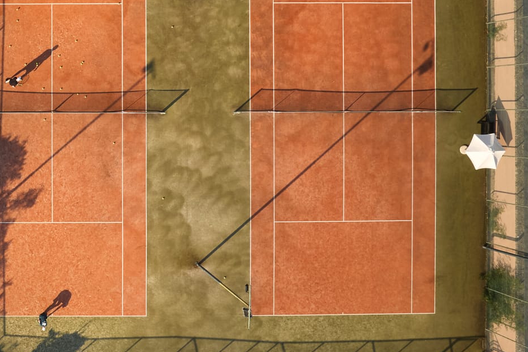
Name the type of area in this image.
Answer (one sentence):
This image shows a sports ground.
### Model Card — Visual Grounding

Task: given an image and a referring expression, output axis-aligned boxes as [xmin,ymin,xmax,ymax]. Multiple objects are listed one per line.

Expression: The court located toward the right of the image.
[249,0,436,316]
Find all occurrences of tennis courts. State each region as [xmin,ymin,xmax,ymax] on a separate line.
[0,0,147,317]
[249,0,436,316]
